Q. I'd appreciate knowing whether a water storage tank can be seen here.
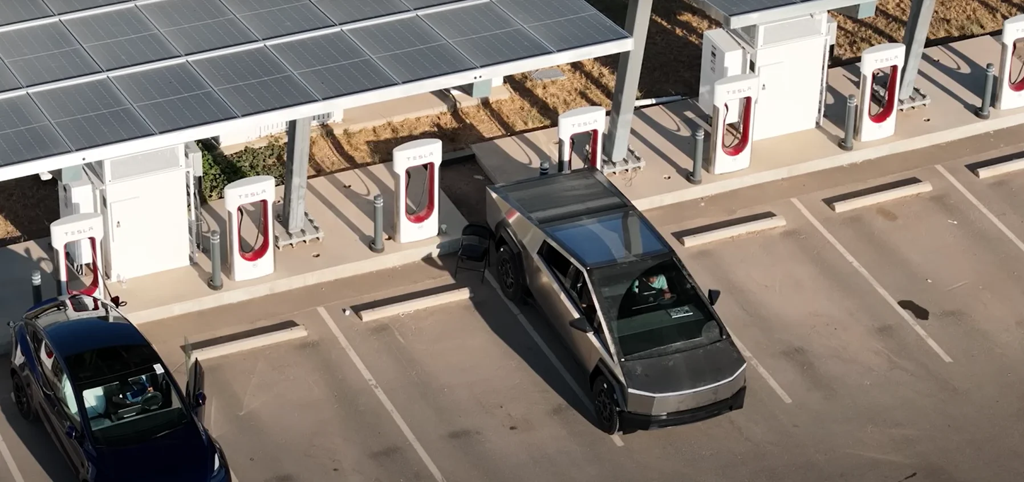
No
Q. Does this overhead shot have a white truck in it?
No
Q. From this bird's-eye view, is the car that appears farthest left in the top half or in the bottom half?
bottom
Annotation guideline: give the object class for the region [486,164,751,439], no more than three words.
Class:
truck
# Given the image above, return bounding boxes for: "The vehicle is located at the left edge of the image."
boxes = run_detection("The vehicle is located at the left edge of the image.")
[1,294,233,482]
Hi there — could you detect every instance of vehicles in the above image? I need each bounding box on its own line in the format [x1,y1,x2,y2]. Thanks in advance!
[486,164,751,439]
[1,294,233,482]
